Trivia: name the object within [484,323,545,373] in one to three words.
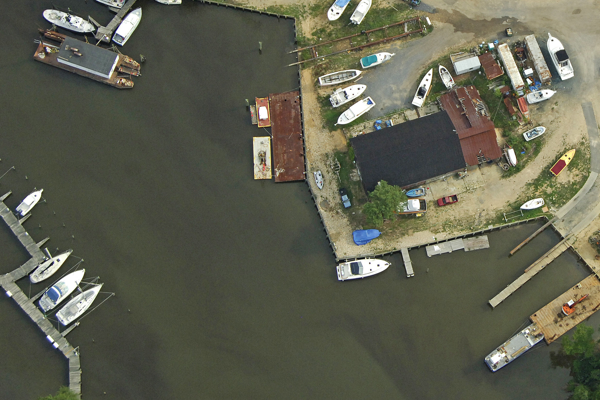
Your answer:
boat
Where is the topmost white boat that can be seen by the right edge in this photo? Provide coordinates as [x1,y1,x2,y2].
[546,31,575,83]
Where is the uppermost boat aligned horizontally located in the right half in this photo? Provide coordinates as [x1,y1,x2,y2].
[360,51,396,70]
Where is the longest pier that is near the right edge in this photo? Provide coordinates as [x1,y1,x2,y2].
[486,235,579,310]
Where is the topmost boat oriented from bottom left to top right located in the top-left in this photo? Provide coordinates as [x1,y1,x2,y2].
[111,8,142,47]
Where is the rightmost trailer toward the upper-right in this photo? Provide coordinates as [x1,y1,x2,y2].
[524,34,551,86]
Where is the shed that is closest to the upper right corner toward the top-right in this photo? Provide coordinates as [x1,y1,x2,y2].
[478,52,503,81]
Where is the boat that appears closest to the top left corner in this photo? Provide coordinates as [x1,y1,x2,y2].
[42,8,95,32]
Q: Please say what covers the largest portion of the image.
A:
water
